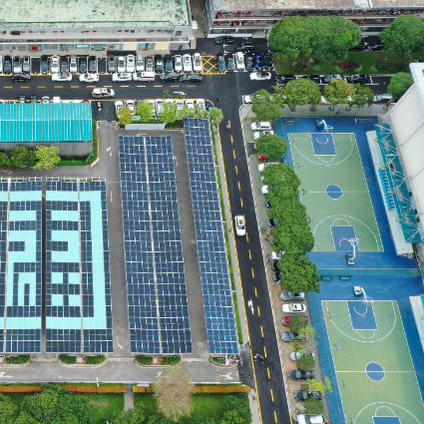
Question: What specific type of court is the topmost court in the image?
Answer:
basketball court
